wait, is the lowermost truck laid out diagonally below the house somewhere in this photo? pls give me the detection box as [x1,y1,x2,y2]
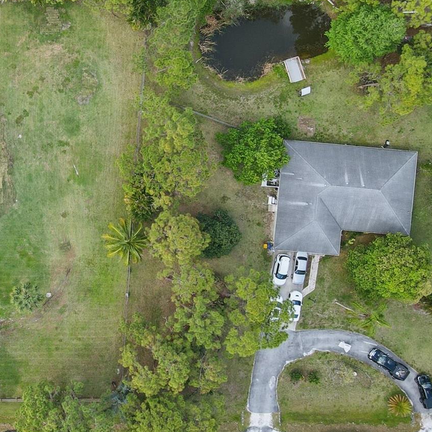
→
[366,348,411,381]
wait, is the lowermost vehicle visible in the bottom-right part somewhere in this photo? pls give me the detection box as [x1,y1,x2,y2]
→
[416,373,432,411]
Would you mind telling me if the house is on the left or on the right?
right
